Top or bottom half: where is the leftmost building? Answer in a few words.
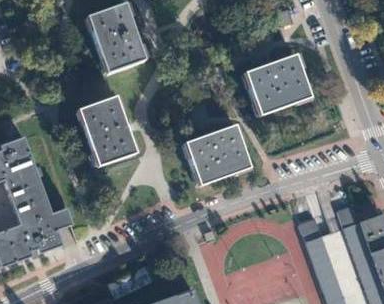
bottom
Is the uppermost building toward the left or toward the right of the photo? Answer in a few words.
left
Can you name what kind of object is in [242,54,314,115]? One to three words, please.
building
